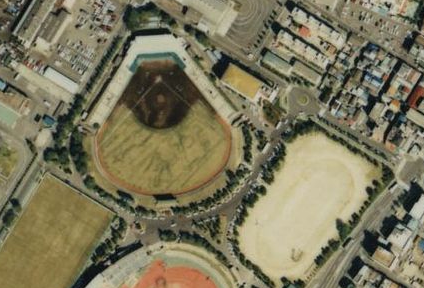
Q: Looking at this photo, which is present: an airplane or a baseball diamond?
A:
baseball diamond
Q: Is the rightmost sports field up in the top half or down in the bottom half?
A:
bottom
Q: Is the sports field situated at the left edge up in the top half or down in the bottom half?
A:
bottom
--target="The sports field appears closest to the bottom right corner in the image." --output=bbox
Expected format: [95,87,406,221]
[239,132,382,283]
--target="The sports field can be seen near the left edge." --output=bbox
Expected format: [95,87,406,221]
[0,171,120,288]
